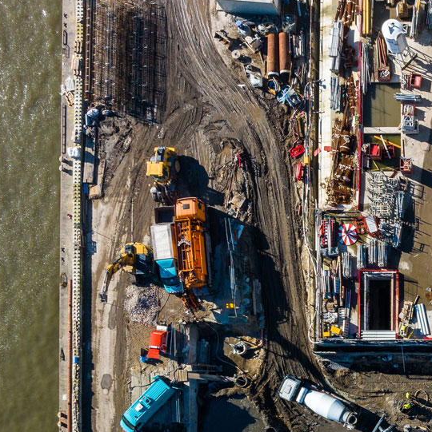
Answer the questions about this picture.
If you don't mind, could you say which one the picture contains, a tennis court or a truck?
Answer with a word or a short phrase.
truck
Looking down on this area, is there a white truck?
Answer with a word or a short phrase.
Yes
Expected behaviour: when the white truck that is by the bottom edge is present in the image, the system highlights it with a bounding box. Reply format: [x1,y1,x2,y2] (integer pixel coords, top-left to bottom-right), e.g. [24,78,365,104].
[269,371,358,432]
